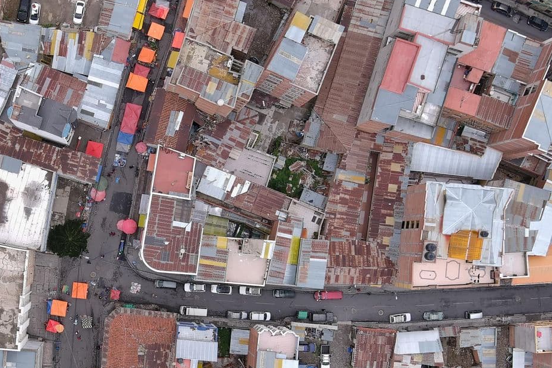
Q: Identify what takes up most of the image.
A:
buildings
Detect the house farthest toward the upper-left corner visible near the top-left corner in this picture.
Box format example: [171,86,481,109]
[0,25,42,74]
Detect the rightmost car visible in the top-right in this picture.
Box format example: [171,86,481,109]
[526,16,550,30]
